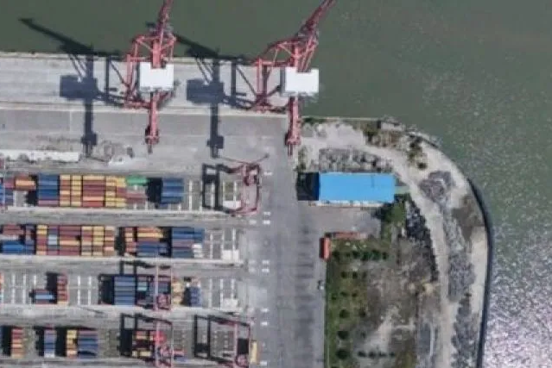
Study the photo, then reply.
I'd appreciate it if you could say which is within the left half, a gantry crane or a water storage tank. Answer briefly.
gantry crane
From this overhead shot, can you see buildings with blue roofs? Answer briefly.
Yes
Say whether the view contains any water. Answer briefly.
Yes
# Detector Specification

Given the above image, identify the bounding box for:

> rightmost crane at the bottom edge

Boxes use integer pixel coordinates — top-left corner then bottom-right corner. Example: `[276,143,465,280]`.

[219,317,254,368]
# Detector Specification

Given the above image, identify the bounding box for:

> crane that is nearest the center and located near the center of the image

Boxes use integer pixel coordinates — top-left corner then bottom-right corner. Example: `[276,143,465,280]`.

[226,161,261,217]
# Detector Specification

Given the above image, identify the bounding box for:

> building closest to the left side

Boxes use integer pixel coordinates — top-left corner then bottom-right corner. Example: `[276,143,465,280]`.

[312,173,395,211]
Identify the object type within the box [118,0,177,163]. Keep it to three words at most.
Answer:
container crane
